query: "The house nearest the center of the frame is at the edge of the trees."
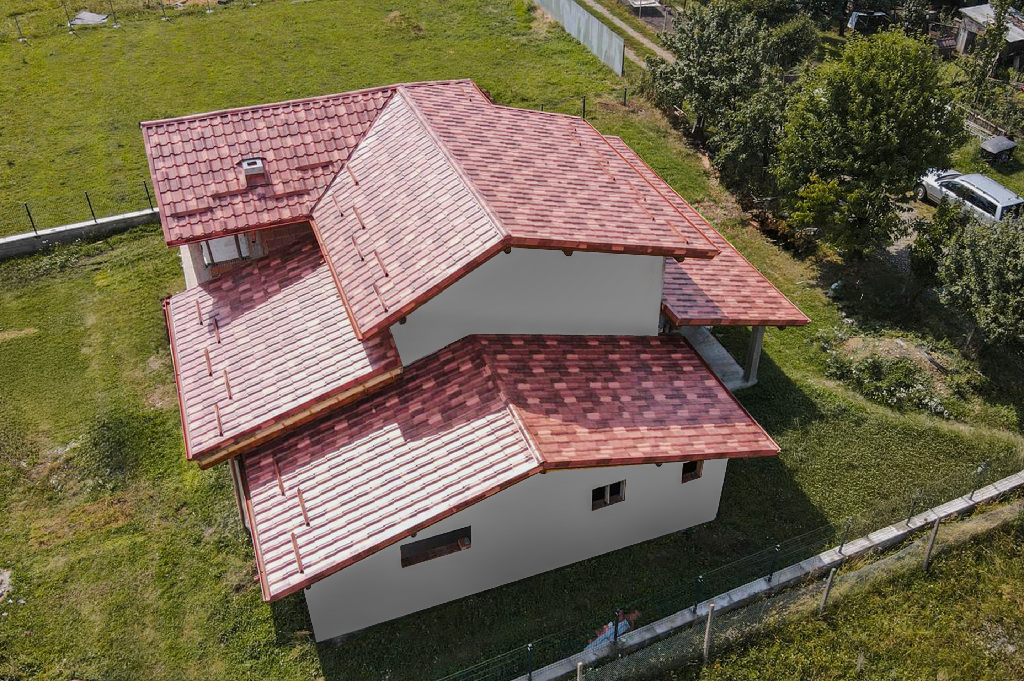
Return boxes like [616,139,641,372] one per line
[141,75,812,643]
